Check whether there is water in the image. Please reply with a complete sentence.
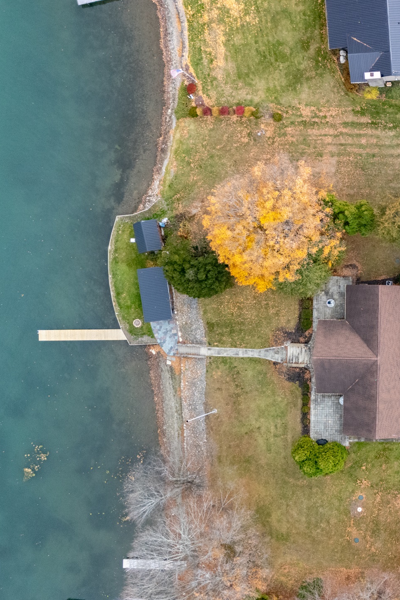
Yes, water shows up in the scene.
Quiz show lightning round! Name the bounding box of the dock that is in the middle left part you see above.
[38,328,124,341]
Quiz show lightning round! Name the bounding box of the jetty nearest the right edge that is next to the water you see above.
[123,557,187,570]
